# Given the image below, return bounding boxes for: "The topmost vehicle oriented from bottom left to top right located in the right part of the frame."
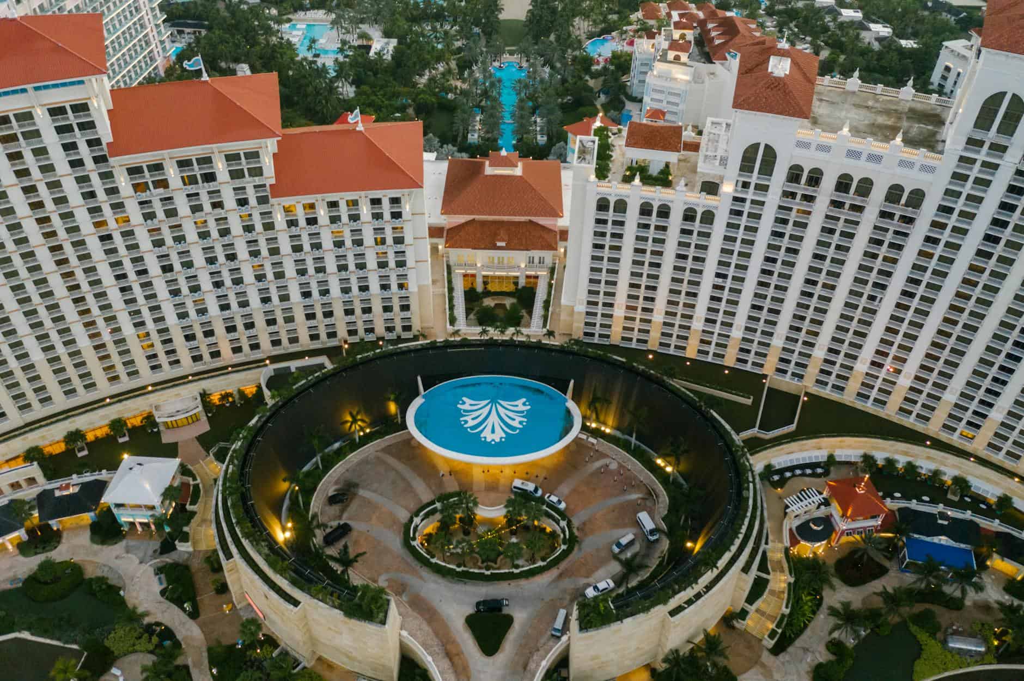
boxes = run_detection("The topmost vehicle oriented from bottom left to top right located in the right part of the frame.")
[610,530,638,553]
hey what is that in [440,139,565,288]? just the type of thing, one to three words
building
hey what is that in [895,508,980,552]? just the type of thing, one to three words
building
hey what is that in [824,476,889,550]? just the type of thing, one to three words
house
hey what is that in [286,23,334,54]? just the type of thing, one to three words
swimming pool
